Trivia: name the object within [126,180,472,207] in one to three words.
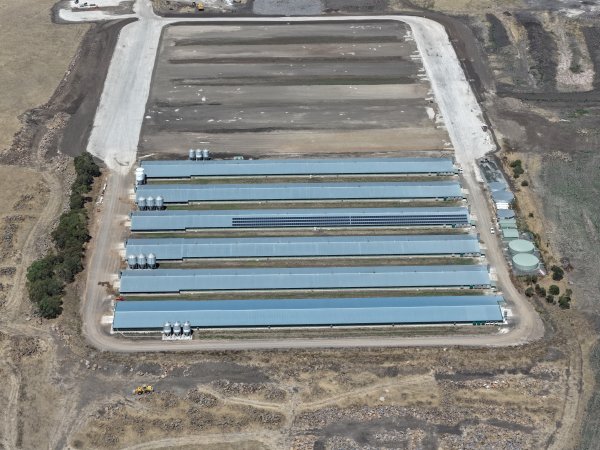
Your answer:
shed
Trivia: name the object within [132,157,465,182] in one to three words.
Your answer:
shed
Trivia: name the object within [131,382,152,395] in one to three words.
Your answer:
vehicle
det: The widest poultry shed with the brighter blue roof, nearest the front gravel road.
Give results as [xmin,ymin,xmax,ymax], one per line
[103,296,521,333]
